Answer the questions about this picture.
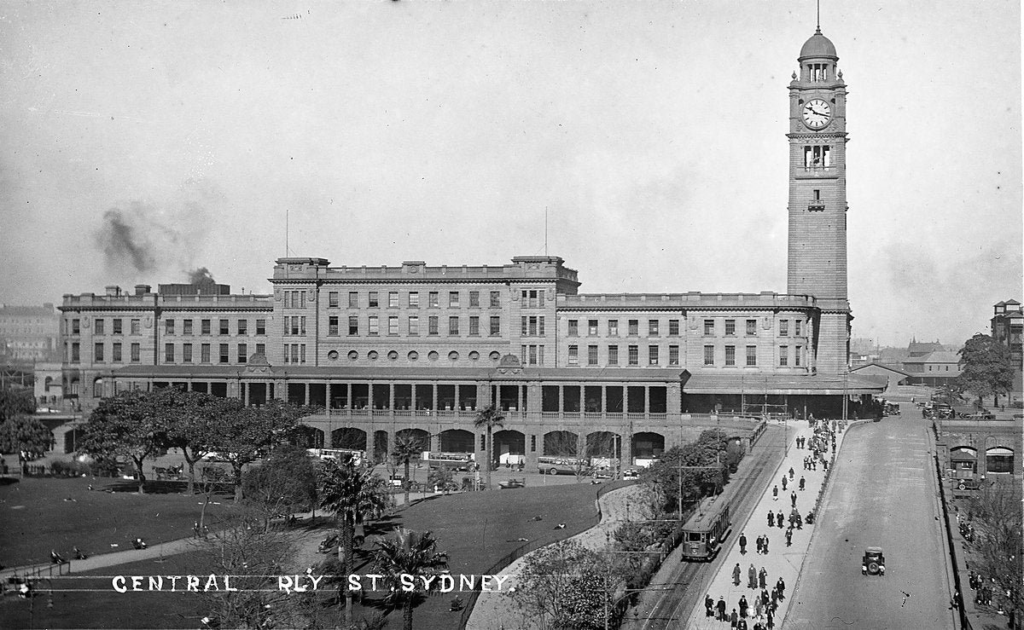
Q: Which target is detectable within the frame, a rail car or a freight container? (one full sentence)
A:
The image shows a rail car.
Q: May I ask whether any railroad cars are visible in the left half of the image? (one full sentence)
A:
No, looking in the left half of the image, there is no railroad car.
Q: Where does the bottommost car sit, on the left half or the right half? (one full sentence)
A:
The bottommost car sits on the right side.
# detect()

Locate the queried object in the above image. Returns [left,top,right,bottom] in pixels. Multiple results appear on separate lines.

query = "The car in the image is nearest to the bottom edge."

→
[862,550,882,577]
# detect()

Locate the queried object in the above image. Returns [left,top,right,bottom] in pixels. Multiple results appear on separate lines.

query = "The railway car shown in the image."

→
[681,478,729,558]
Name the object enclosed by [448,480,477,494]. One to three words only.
car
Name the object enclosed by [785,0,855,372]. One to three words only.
building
